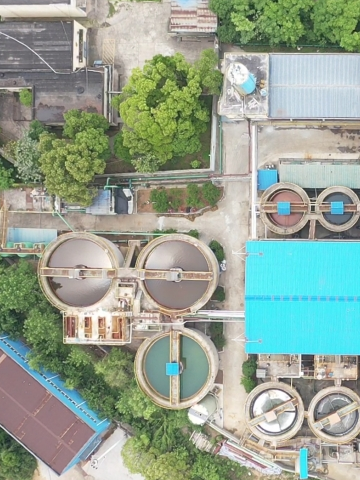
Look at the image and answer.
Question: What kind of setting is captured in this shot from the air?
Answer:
industrial area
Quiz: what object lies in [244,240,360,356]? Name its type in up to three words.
building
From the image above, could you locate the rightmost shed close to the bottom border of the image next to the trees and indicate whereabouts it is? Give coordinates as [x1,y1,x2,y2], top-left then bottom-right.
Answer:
[217,436,273,480]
